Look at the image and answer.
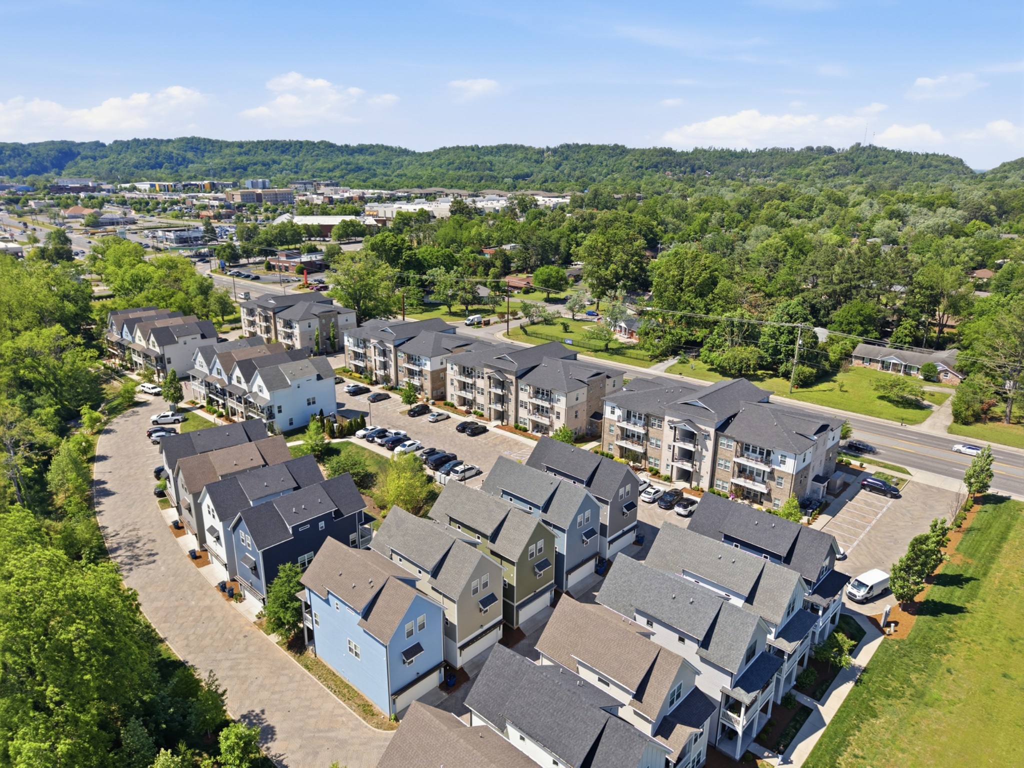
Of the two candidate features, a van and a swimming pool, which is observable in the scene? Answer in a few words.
van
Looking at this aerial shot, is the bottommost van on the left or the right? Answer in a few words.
right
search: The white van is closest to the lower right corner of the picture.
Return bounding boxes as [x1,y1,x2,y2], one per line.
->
[851,563,892,603]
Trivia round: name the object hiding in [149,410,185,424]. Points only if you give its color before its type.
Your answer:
white vehicle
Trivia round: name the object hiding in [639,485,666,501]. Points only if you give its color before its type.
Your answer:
white car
